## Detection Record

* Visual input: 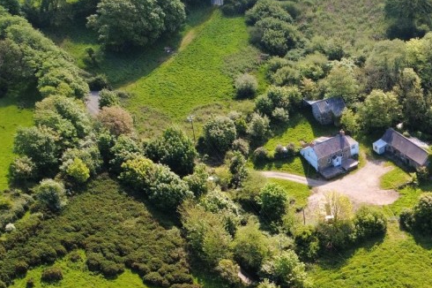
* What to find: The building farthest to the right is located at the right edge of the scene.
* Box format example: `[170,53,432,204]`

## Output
[372,128,432,167]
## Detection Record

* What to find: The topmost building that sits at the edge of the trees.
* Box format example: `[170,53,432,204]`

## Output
[303,95,344,124]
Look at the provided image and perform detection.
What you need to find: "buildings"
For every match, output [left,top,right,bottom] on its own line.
[372,128,432,167]
[303,95,344,124]
[299,131,363,180]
